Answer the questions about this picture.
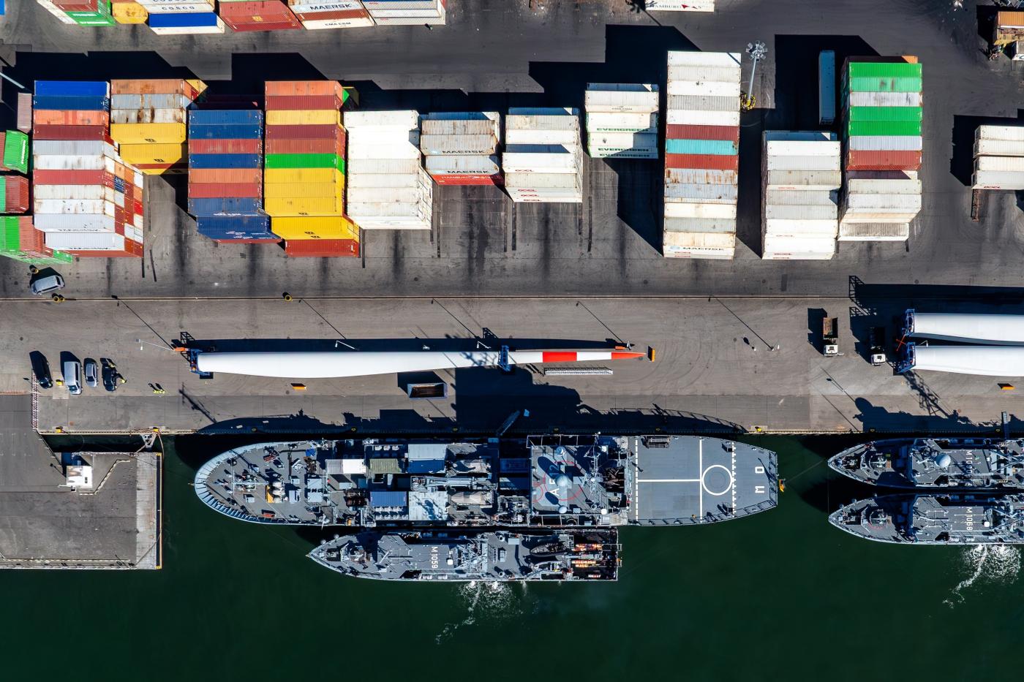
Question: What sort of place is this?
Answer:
port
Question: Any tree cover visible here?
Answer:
No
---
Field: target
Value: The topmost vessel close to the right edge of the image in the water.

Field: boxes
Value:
[830,432,1024,489]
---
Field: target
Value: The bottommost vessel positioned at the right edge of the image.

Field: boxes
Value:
[830,490,1024,547]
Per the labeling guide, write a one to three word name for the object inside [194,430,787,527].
ship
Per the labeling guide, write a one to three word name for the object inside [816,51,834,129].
trailer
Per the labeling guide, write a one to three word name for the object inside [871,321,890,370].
vehicle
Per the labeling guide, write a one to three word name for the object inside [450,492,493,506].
boat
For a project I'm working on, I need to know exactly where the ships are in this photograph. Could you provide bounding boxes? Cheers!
[308,527,623,582]
[194,430,787,527]
[830,432,1024,489]
[830,490,1024,547]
